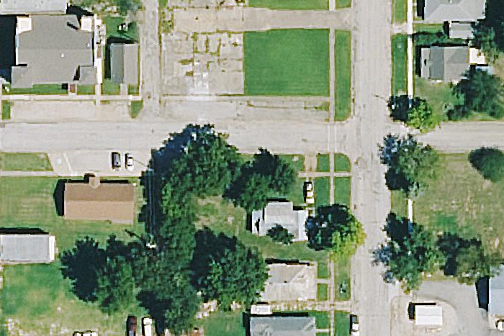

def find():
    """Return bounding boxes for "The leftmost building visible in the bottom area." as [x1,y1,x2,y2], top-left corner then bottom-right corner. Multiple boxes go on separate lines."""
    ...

[0,234,55,262]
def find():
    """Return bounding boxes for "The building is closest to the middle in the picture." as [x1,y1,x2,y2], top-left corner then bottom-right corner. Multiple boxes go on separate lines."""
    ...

[253,201,308,239]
